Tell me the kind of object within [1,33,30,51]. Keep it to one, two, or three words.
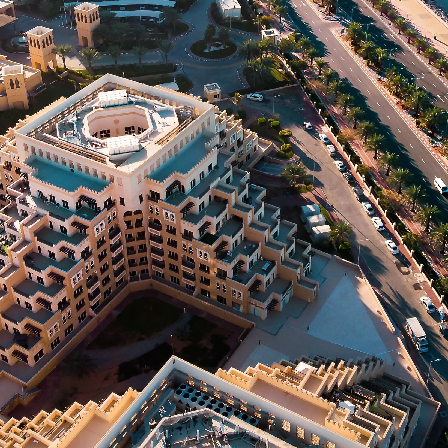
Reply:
fountain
